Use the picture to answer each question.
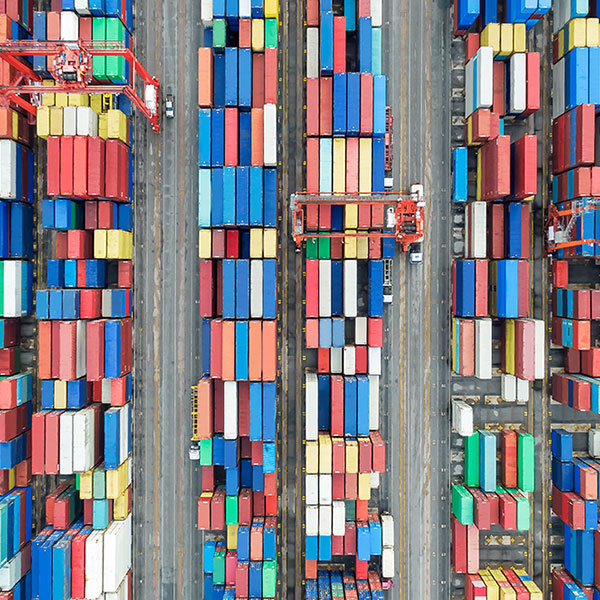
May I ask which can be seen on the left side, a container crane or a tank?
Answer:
container crane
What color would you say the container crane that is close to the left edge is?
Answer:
red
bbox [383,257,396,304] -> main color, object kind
white vehicle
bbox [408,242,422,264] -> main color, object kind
white vehicle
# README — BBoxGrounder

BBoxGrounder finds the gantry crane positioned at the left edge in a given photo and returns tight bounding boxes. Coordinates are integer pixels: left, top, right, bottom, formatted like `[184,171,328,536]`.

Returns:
[0,39,161,130]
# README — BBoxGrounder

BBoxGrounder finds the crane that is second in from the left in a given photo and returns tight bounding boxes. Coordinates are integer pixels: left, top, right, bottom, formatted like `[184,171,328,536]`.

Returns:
[290,189,432,253]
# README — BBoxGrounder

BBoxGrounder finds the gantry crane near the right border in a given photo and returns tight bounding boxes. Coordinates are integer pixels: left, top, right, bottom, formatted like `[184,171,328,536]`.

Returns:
[543,193,600,257]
